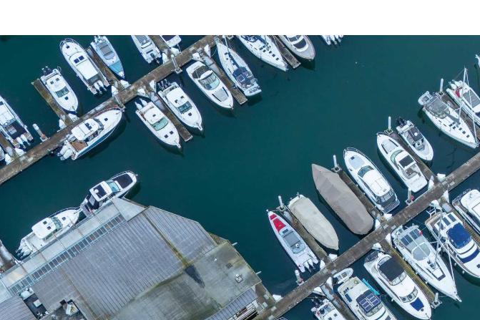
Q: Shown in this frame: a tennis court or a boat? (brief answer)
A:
boat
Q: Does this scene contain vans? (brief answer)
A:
No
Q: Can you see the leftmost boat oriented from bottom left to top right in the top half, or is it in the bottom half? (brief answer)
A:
bottom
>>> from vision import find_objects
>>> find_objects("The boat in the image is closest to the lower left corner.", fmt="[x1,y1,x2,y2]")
[18,205,83,256]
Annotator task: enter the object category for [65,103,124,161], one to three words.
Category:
boat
